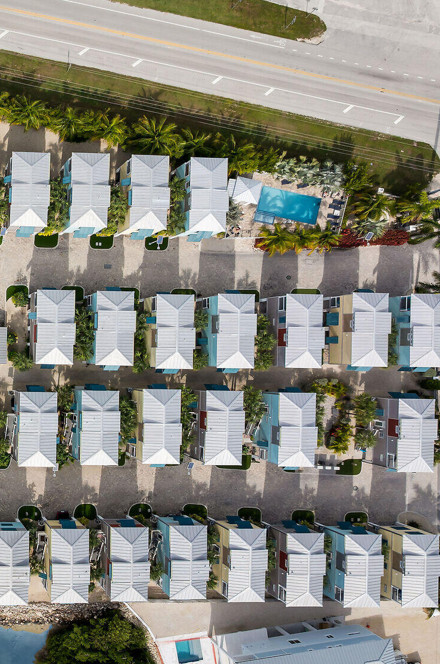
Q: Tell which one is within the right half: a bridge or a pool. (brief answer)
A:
pool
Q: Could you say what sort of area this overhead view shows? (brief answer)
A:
residential area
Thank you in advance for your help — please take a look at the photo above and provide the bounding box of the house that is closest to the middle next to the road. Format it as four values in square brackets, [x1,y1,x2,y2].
[195,288,259,374]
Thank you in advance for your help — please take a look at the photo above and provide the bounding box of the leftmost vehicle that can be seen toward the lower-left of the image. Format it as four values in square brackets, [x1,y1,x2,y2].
[57,502,71,521]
